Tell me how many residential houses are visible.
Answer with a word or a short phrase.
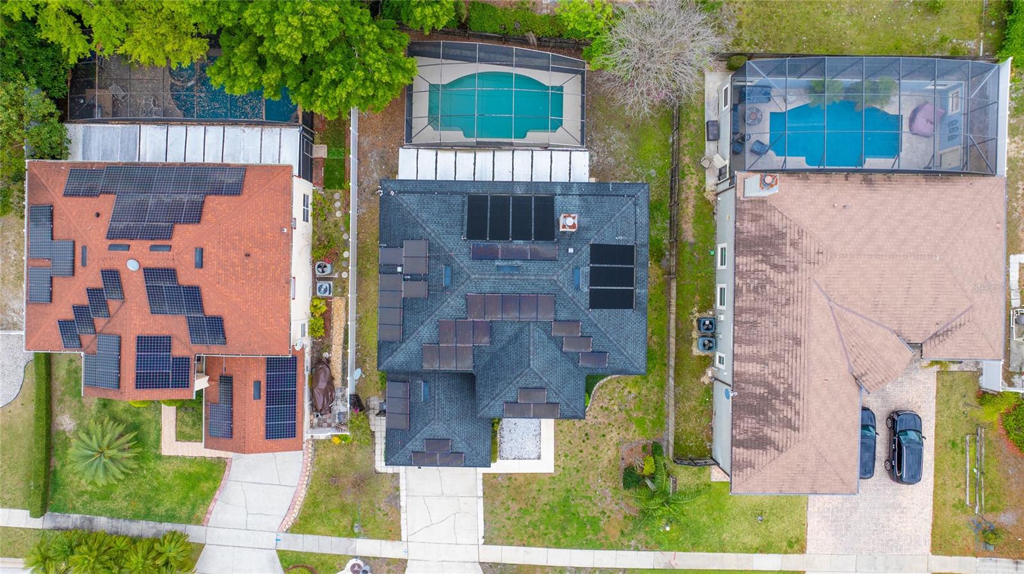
3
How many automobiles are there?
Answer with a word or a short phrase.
two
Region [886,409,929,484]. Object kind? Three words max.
car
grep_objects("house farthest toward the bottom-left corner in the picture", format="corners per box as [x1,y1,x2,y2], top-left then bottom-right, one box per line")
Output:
[22,158,314,455]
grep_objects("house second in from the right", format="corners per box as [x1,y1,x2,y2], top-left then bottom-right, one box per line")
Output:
[375,178,651,469]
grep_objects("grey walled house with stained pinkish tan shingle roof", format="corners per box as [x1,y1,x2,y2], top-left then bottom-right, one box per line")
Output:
[711,163,1008,497]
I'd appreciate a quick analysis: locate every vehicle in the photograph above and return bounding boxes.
[859,406,882,480]
[886,409,929,484]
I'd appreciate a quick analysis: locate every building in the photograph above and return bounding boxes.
[375,178,651,469]
[711,163,1008,497]
[22,158,314,455]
